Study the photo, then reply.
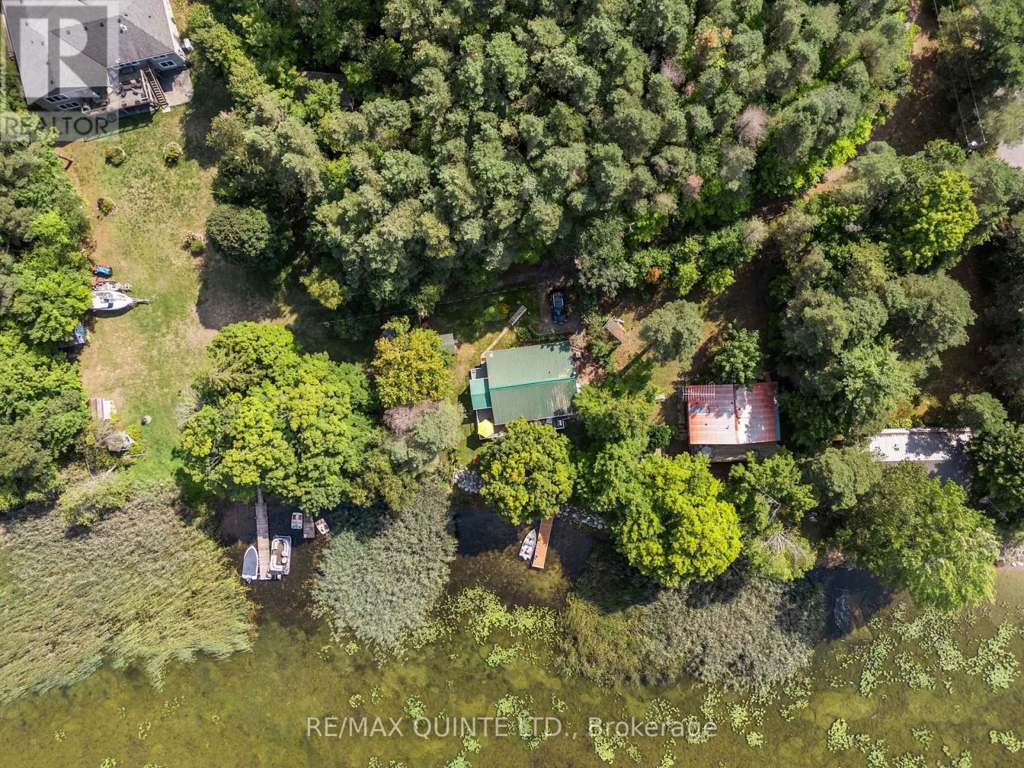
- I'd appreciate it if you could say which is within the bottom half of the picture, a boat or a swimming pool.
boat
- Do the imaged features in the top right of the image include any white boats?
No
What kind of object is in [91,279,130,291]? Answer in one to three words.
boat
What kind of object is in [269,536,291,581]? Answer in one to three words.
boat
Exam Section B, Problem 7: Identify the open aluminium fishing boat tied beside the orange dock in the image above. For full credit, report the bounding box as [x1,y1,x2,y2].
[518,530,535,564]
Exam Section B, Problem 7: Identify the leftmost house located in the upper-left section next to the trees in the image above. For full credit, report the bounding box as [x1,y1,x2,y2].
[2,0,190,116]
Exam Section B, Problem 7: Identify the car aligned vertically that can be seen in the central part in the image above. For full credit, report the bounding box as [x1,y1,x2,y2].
[551,290,566,324]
